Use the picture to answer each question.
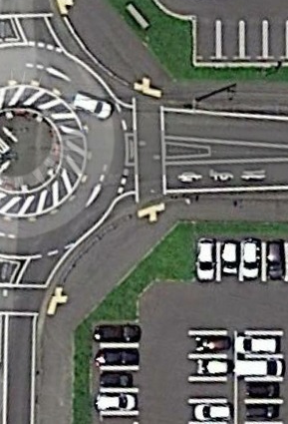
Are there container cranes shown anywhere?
No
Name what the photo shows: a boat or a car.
car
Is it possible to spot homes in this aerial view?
No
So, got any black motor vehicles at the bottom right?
Yes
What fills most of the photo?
paved ground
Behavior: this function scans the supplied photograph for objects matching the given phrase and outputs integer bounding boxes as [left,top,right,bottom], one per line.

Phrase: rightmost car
[268,242,286,280]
